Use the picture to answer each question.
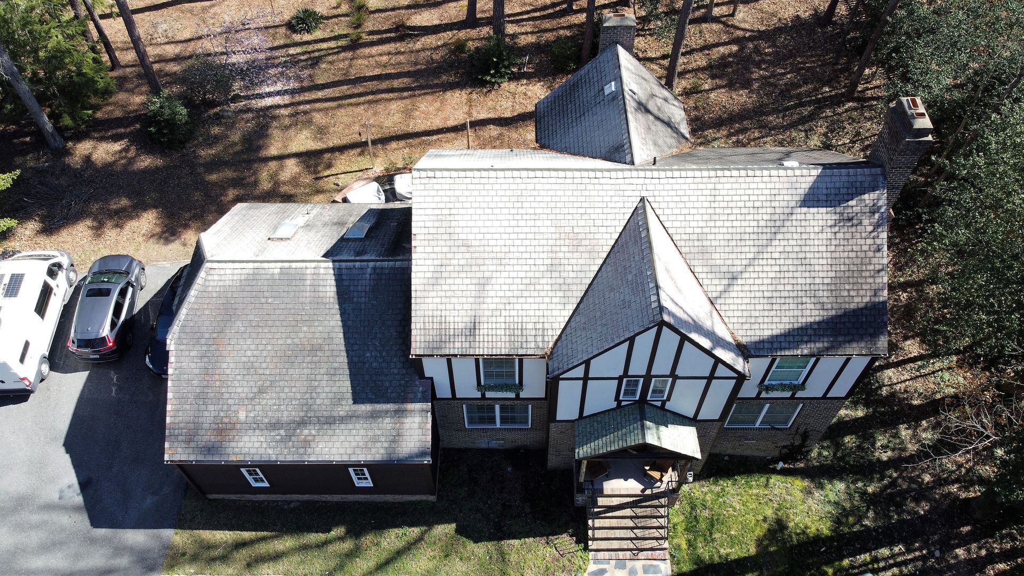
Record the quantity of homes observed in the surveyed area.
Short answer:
1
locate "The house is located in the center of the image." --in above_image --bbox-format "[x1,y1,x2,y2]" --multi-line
[158,12,935,508]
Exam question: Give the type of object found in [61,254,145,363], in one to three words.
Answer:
car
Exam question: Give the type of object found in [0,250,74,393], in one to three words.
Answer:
van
